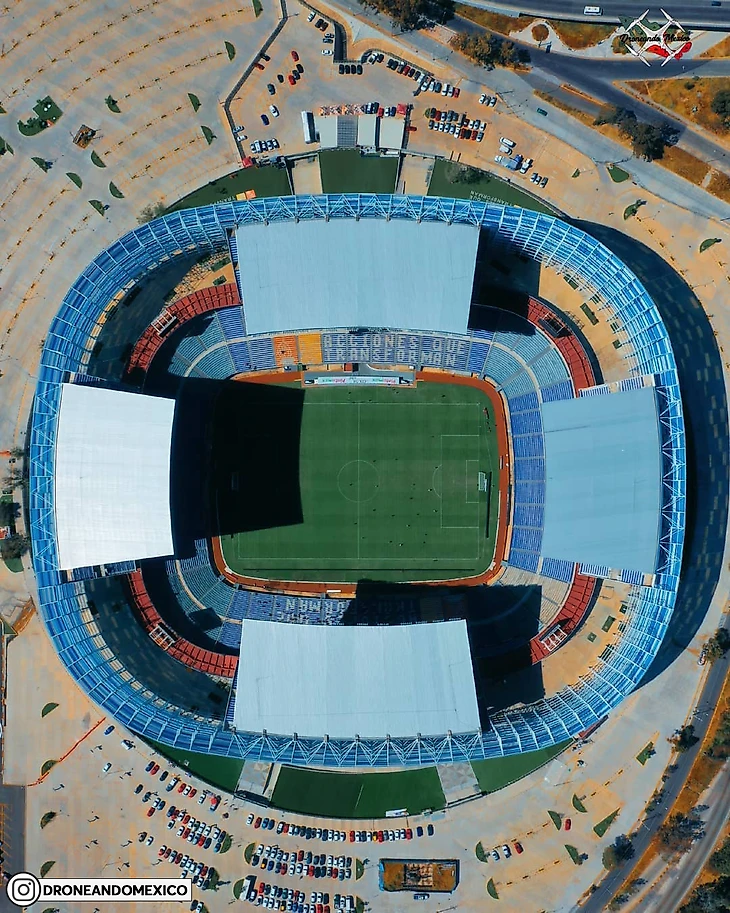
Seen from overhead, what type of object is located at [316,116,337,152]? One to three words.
building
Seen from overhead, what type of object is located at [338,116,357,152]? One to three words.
building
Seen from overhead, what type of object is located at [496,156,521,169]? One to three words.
vehicle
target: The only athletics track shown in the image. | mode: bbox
[204,364,513,596]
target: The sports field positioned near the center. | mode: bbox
[218,382,498,580]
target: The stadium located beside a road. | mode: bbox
[31,194,685,765]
